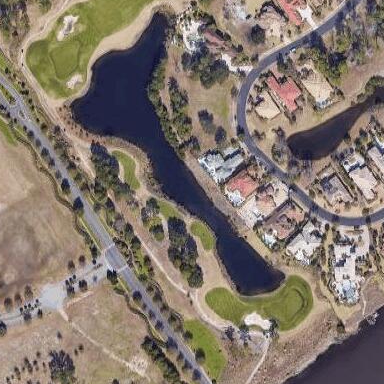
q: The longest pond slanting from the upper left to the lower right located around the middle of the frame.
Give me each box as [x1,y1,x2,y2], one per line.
[71,13,284,295]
